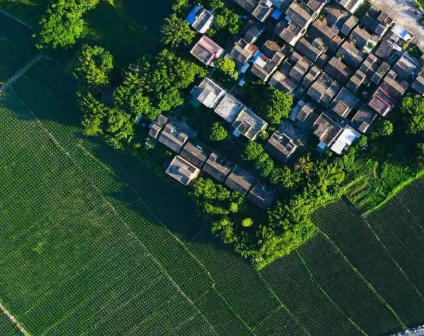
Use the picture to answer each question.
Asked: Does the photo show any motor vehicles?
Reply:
No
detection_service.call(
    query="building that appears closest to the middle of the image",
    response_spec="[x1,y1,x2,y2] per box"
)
[200,150,234,180]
